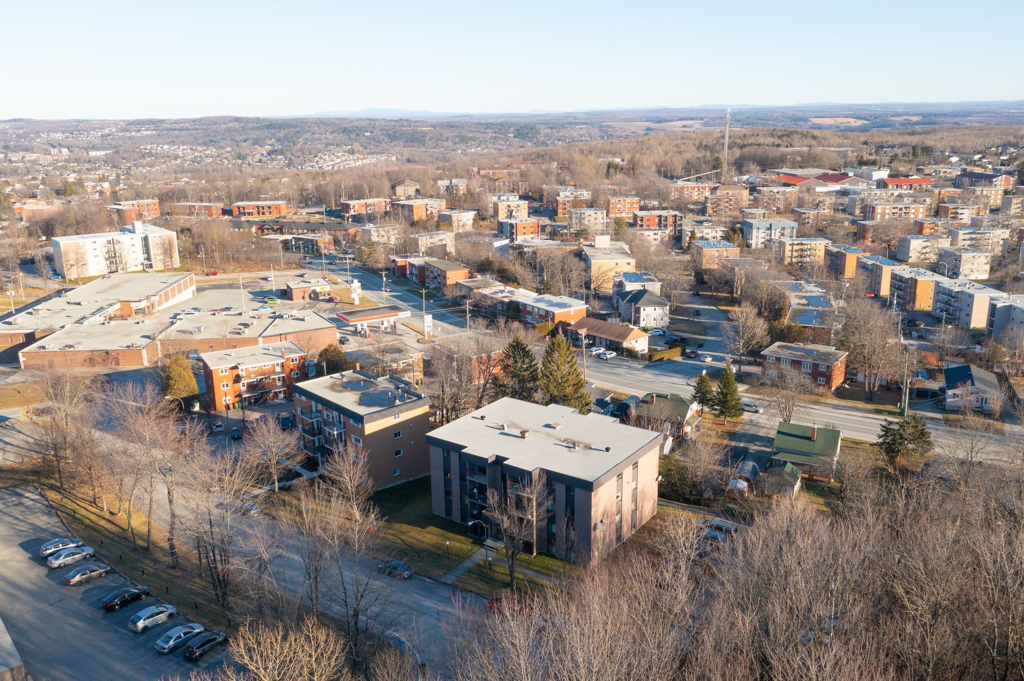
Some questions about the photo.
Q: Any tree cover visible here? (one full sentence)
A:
Yes, some tree cover is visible.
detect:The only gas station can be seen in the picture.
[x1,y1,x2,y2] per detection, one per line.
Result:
[336,306,410,338]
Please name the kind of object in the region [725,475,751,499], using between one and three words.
shed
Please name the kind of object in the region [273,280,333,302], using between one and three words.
building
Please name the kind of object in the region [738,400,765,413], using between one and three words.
vehicle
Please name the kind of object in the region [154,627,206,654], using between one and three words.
car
